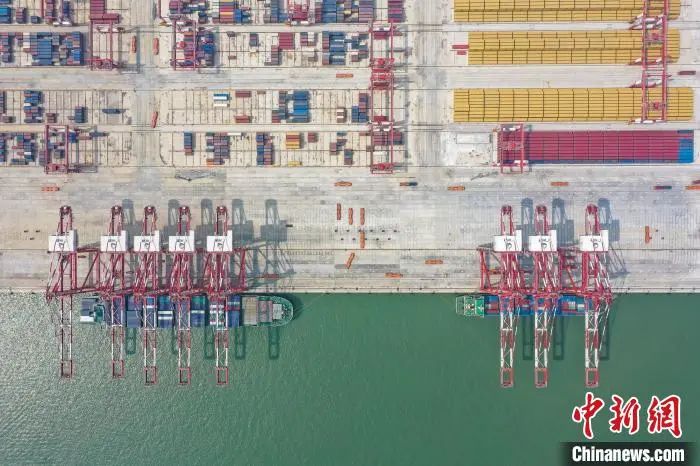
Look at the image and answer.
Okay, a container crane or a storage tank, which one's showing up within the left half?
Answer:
container crane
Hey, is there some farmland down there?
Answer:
No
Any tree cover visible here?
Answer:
No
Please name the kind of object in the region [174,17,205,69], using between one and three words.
container crane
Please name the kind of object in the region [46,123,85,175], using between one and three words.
container crane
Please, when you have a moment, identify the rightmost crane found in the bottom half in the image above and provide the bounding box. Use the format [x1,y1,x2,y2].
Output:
[556,202,614,387]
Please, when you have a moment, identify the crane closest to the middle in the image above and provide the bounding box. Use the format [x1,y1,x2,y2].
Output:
[368,123,394,174]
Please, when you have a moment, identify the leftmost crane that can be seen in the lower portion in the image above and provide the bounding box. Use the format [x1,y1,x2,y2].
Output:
[42,203,106,377]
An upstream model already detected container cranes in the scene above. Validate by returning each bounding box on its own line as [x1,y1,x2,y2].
[42,203,106,377]
[174,17,205,69]
[556,202,614,387]
[46,123,85,175]
[478,202,523,387]
[158,0,191,26]
[491,122,524,174]
[368,123,394,174]
[167,203,215,384]
[96,203,151,377]
[131,203,183,384]
[510,202,559,387]
[368,17,394,71]
[626,70,667,125]
[368,70,394,125]
[286,0,312,26]
[626,16,667,68]
[206,203,249,384]
[40,0,79,26]
[90,18,126,74]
